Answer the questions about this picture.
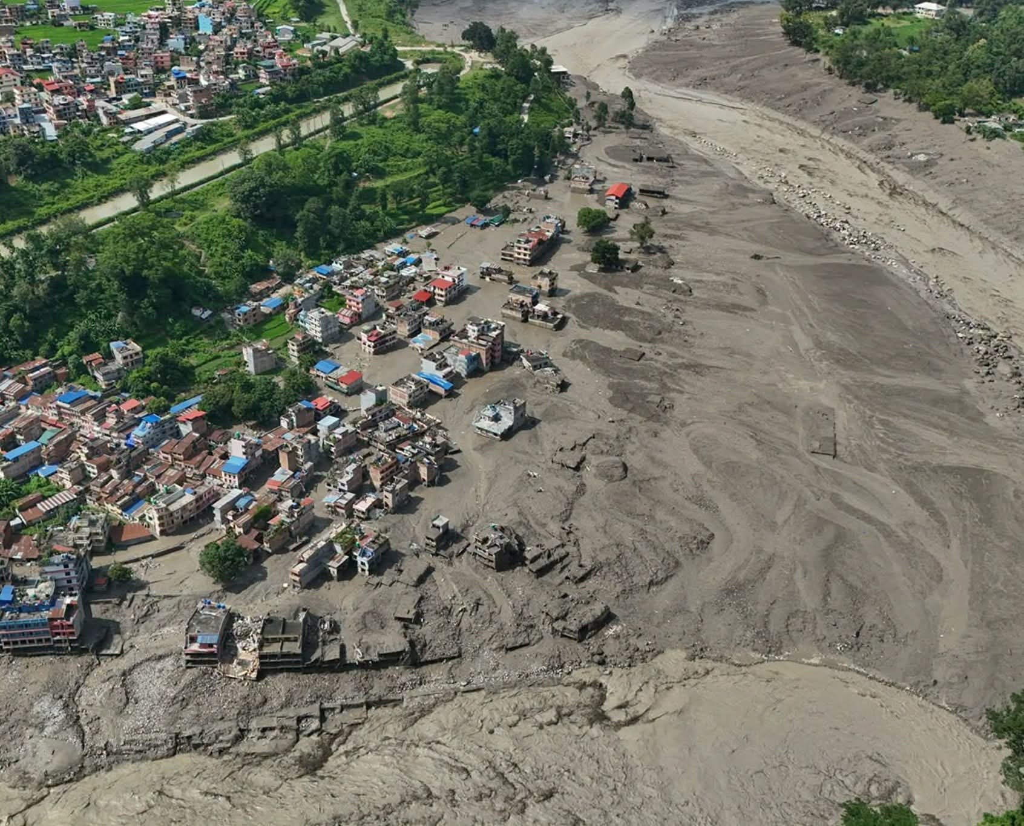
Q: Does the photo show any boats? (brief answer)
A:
No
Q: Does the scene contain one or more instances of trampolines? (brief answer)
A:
No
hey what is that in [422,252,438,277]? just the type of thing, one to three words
shed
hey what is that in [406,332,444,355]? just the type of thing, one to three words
shed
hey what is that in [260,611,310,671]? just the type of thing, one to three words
house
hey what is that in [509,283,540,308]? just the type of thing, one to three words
house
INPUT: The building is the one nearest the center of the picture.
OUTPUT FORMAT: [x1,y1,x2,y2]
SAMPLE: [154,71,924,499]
[471,399,525,439]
